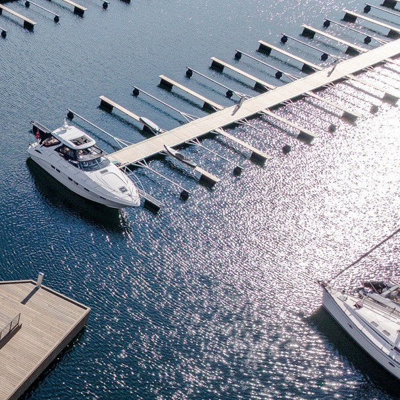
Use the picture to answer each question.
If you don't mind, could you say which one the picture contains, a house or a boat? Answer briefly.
boat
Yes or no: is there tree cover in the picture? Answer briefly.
No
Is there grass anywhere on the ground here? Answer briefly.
No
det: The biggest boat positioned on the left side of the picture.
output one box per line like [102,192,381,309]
[21,121,145,205]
